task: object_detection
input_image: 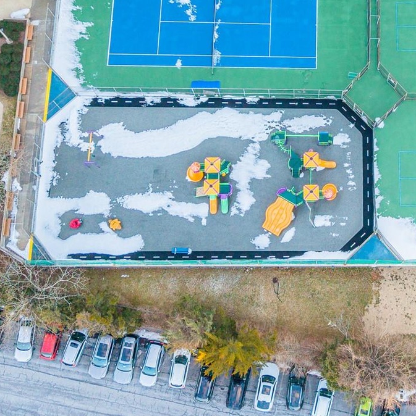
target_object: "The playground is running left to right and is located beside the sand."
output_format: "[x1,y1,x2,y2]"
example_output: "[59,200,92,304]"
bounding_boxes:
[34,96,373,260]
